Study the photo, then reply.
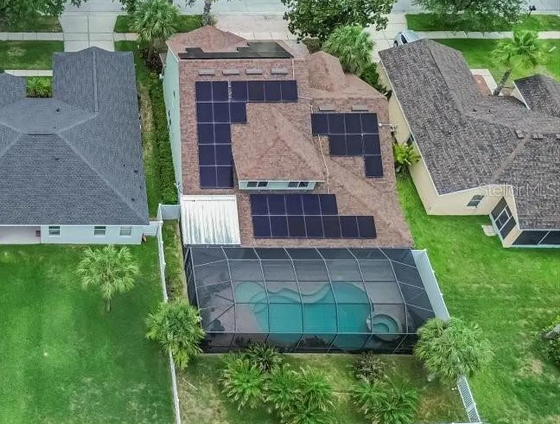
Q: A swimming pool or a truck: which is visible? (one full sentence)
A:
Looking from above, you can make out a swimming pool.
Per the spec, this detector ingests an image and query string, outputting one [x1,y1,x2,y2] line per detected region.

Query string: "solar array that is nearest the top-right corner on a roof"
[312,112,388,177]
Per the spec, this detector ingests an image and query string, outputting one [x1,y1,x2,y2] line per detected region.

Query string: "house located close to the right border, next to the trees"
[378,38,560,248]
